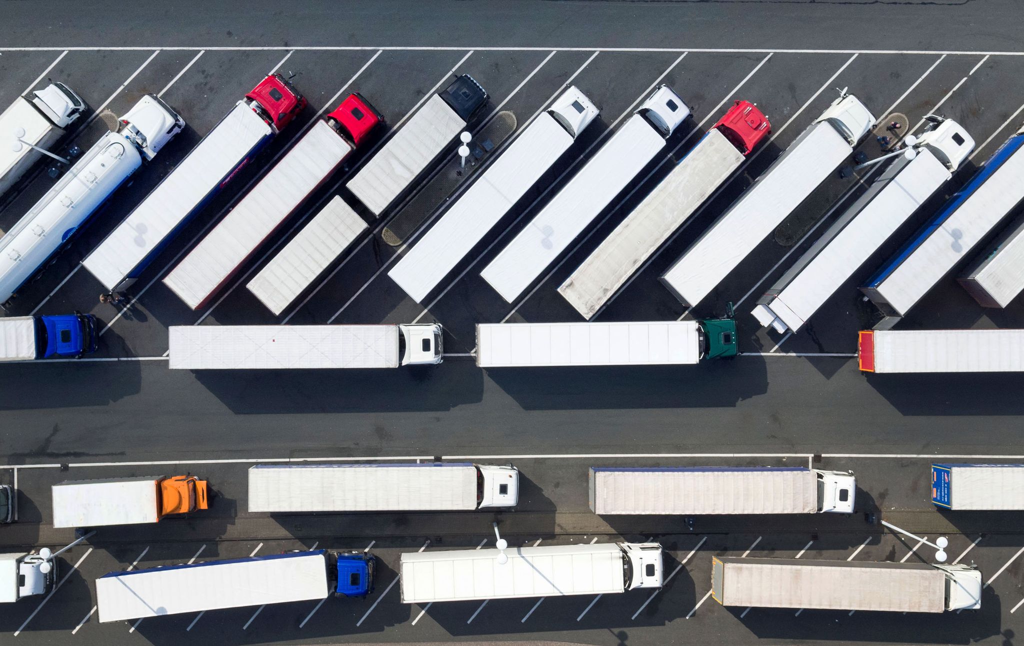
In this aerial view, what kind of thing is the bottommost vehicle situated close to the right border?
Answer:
truck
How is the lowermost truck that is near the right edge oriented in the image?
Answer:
from left to right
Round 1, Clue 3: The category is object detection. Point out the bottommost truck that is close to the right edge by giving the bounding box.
[708,554,979,612]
